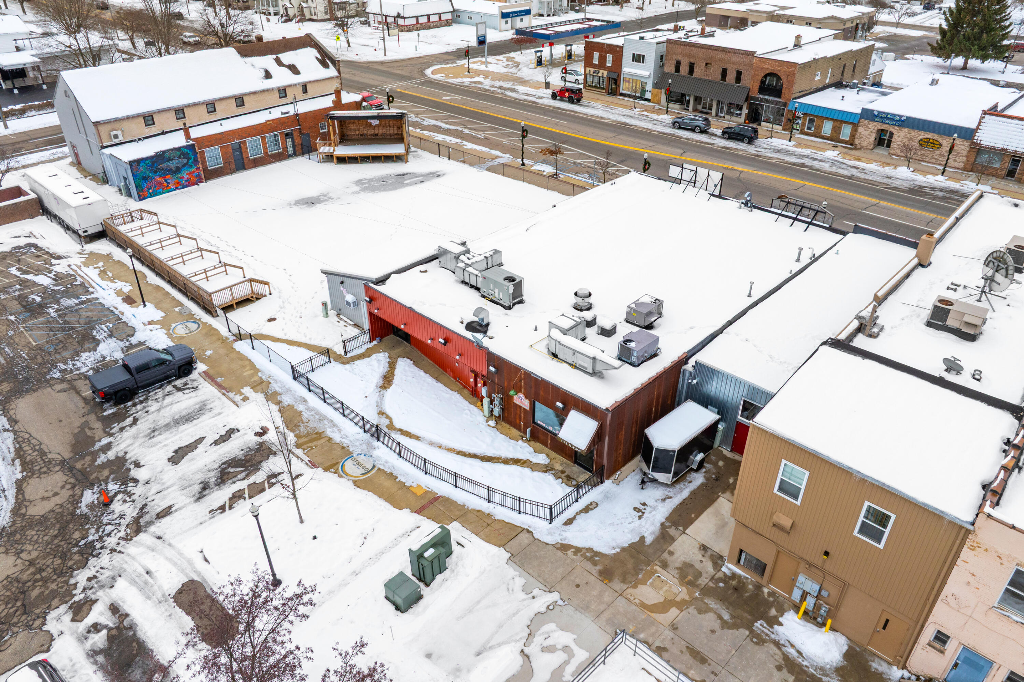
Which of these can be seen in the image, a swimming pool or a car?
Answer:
car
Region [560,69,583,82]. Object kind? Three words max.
vehicle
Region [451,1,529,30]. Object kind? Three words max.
building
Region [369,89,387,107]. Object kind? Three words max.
vehicle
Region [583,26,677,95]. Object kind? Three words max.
building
